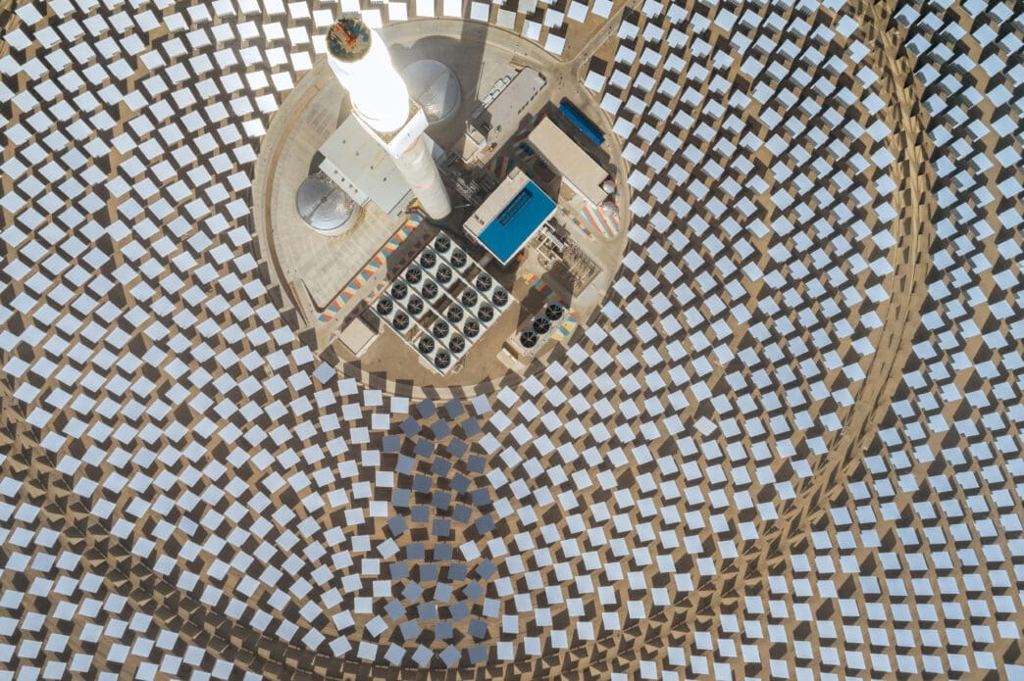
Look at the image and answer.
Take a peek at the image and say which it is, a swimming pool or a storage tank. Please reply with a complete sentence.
Of the two, only a storage tank appears.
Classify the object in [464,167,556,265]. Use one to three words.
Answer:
building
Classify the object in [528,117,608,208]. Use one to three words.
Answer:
building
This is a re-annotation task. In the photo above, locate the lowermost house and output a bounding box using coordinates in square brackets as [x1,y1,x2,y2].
[339,318,380,354]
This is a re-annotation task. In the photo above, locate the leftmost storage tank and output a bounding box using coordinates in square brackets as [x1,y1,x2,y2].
[295,171,363,237]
